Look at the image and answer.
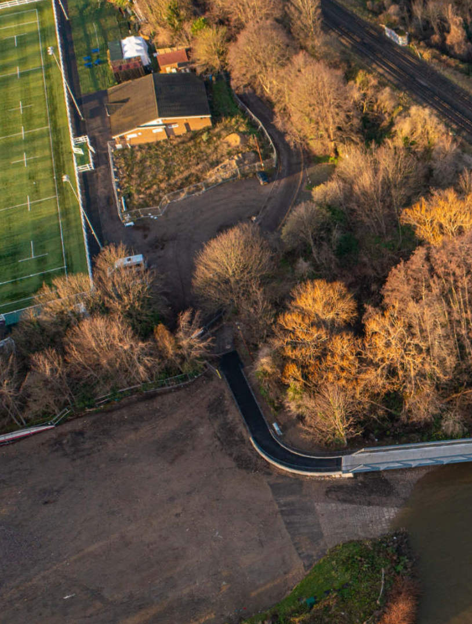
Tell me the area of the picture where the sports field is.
top left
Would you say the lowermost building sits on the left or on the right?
left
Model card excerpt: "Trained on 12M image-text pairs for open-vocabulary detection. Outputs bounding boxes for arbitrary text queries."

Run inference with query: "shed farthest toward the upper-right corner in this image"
[396,37,436,61]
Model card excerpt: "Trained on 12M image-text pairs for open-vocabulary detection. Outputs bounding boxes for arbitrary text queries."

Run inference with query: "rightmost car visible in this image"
[255,168,268,183]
